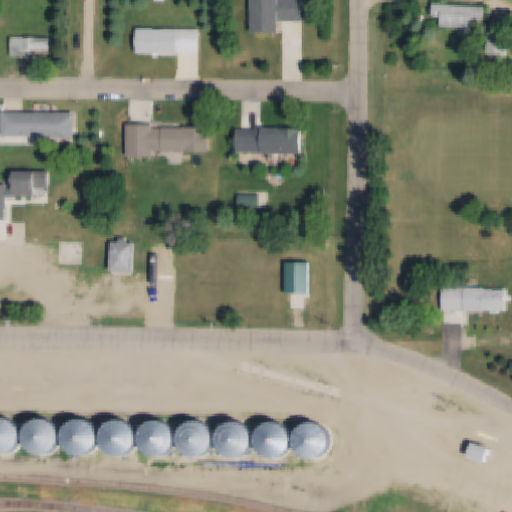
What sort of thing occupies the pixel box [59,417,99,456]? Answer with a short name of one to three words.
silo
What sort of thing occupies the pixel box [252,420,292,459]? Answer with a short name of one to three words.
silo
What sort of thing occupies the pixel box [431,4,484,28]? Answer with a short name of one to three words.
house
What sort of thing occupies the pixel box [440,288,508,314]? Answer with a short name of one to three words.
house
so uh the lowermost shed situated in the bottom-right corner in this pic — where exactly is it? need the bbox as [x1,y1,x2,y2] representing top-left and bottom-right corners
[466,444,491,462]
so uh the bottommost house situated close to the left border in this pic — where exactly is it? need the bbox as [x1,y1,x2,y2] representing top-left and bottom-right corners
[0,171,48,220]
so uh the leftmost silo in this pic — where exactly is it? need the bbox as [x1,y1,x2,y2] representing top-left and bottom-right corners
[0,416,22,454]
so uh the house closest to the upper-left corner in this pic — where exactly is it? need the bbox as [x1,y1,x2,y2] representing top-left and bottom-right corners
[8,37,49,56]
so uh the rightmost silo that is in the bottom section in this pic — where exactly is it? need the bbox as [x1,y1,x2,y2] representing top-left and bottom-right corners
[290,420,331,460]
